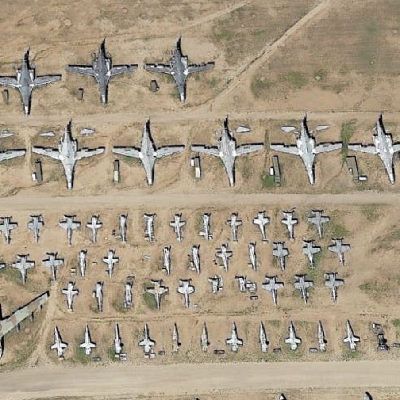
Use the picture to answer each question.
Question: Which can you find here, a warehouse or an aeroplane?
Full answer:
Visible in the photo is an aeroplane.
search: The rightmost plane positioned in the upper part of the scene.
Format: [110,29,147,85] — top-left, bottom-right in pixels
[351,113,400,184]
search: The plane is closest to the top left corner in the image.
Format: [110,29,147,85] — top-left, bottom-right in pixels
[0,47,64,116]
